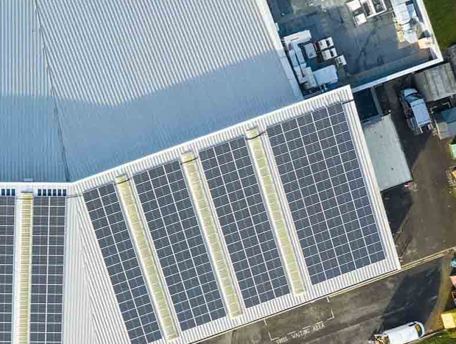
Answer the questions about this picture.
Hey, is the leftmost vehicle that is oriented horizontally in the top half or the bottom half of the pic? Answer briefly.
bottom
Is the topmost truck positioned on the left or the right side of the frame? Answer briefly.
right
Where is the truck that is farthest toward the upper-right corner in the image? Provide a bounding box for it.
[398,90,435,135]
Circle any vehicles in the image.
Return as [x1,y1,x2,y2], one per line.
[368,321,427,344]
[398,90,435,135]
